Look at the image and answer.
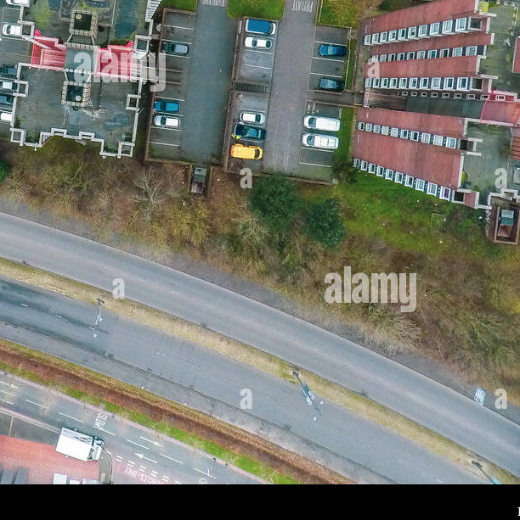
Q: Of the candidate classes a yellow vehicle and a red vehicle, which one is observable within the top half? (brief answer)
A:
yellow vehicle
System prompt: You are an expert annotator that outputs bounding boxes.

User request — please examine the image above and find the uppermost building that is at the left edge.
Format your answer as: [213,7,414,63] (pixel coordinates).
[9,0,162,158]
